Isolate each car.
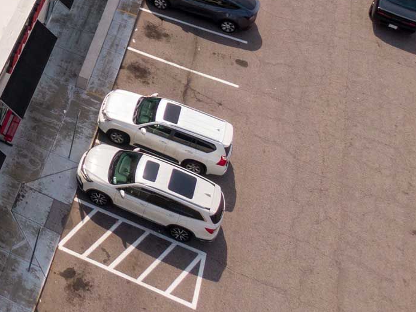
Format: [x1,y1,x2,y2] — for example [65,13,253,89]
[147,0,261,36]
[369,0,416,35]
[97,94,235,174]
[75,152,227,249]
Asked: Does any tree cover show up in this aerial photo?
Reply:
No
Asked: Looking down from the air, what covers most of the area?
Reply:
paved ground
